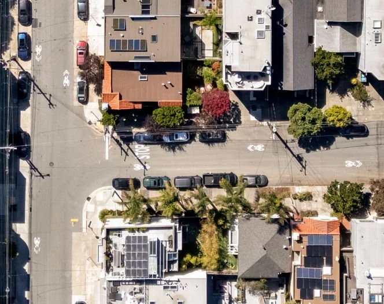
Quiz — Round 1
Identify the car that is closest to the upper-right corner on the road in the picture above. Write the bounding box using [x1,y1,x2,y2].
[341,125,368,138]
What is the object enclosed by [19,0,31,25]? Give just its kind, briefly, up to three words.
vehicle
